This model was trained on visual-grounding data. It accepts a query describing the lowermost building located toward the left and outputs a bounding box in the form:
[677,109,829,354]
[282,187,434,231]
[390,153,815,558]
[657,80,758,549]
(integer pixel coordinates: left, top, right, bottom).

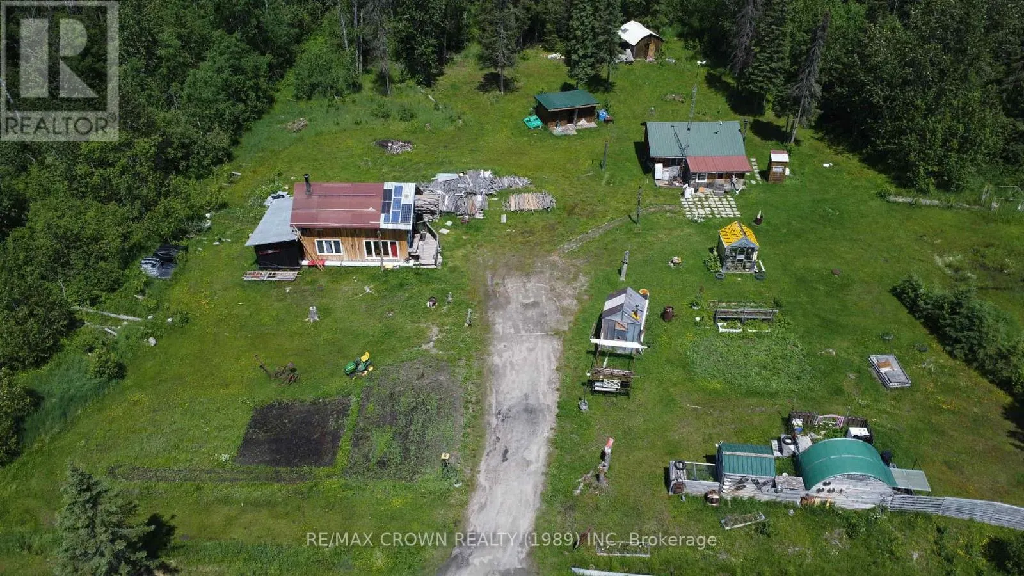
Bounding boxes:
[246,173,417,268]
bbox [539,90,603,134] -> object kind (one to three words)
shed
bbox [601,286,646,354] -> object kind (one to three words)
shed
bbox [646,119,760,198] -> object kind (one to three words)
house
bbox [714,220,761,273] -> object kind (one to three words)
greenhouse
